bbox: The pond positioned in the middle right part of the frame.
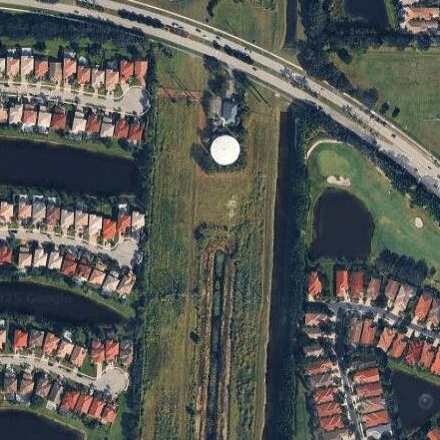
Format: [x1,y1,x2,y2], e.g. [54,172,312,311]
[311,187,375,260]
